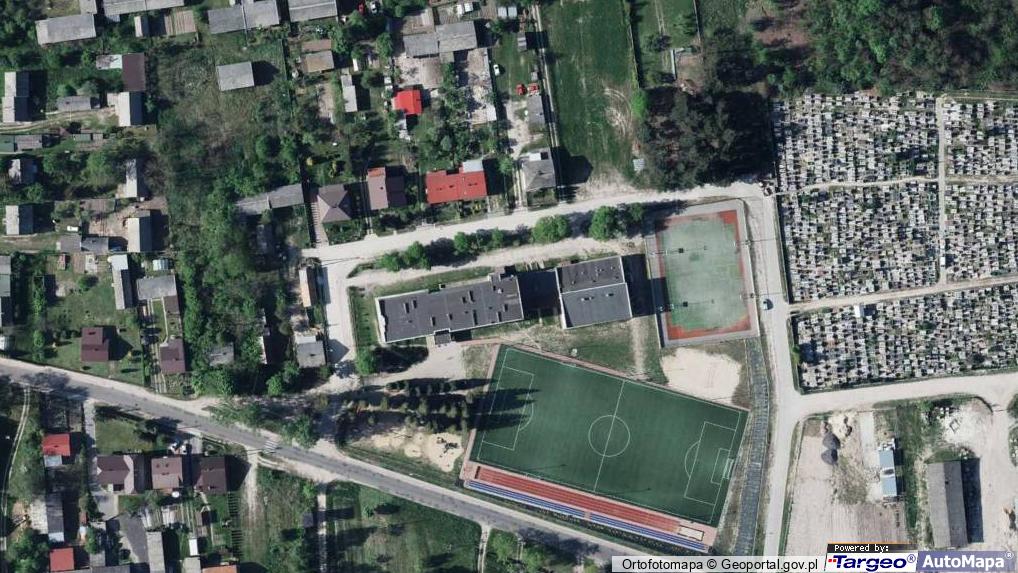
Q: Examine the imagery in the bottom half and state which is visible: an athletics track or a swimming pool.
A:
athletics track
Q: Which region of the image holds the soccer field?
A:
bottom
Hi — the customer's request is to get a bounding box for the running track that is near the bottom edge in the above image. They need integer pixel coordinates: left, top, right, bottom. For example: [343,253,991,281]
[461,460,718,559]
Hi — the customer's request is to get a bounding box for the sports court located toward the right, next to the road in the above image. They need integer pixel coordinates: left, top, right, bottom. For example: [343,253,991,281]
[646,198,761,349]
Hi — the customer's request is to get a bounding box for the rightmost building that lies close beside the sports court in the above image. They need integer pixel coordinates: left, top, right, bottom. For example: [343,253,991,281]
[554,256,632,328]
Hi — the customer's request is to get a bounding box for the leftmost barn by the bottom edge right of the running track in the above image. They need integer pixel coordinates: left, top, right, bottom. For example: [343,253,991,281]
[926,462,968,548]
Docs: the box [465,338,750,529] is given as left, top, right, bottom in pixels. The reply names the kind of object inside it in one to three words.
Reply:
soccer field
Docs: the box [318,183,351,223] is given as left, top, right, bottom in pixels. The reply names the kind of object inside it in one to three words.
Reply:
house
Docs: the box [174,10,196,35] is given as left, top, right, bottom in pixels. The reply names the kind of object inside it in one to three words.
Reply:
barn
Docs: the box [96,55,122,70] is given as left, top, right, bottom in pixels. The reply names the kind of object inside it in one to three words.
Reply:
shed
